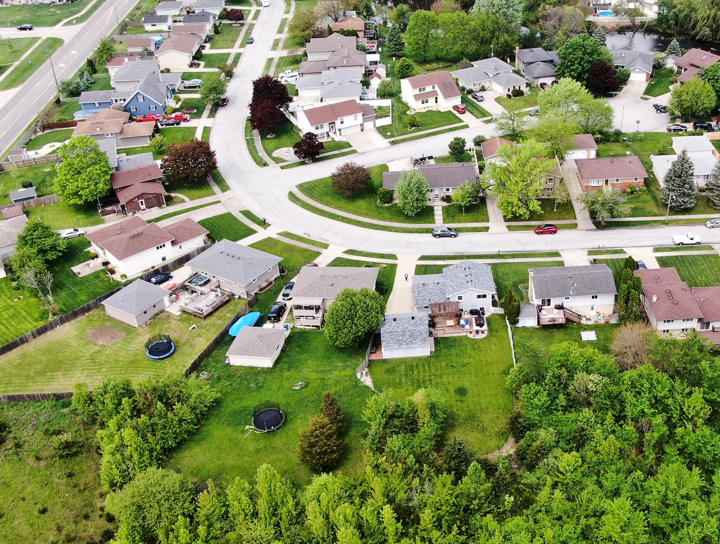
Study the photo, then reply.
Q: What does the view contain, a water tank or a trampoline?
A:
trampoline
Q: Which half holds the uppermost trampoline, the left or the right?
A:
left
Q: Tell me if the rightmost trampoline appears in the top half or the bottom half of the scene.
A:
bottom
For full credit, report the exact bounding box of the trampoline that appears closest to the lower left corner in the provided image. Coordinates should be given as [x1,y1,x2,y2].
[145,334,175,360]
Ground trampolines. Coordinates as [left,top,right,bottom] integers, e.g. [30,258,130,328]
[145,334,175,360]
[251,400,285,434]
